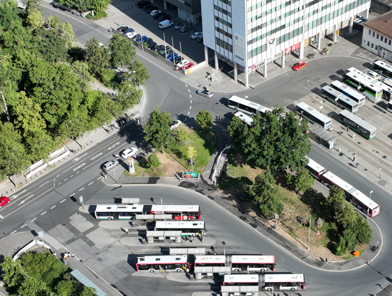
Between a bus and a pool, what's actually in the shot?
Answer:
bus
